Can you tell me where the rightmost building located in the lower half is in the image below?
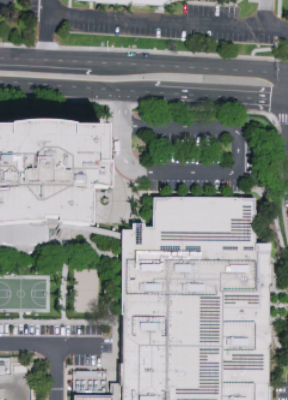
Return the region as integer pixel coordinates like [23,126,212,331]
[122,196,272,400]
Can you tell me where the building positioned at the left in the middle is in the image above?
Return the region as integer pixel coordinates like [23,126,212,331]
[0,119,116,226]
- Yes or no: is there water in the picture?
No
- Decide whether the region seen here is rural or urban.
urban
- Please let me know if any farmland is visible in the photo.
No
